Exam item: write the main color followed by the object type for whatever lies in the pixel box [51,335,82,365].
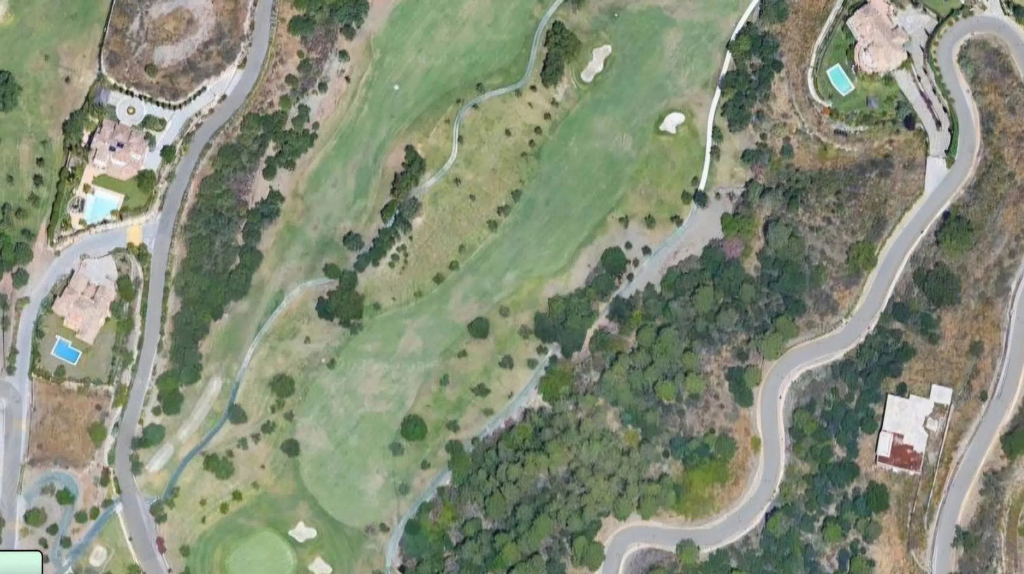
blue swimming pool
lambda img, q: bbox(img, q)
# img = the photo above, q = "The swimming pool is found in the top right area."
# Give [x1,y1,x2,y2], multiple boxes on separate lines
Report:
[826,63,854,96]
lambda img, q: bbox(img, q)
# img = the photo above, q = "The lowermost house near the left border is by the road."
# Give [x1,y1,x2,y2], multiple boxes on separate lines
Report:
[49,271,115,346]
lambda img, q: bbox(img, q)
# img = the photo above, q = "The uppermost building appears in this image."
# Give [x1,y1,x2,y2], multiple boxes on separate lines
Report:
[846,0,910,72]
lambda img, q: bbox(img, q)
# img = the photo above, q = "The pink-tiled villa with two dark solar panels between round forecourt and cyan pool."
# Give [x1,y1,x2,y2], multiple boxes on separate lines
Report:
[88,118,149,181]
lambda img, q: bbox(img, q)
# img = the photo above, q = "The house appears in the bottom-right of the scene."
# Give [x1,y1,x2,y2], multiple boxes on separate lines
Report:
[877,384,954,472]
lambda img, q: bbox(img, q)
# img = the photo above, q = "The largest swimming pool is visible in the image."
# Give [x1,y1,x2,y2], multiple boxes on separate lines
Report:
[83,185,125,224]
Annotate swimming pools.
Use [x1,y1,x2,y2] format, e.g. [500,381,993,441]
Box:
[51,335,82,365]
[83,185,125,224]
[826,63,854,96]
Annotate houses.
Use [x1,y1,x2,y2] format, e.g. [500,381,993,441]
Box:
[88,118,149,181]
[49,271,115,346]
[846,0,910,72]
[877,384,954,472]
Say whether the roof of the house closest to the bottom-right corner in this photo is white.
Yes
